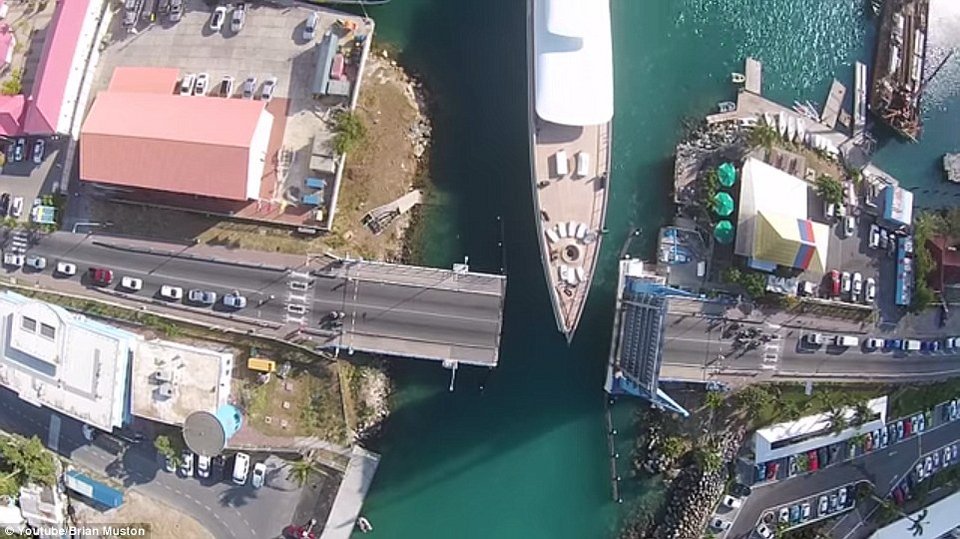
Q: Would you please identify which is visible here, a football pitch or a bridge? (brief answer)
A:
bridge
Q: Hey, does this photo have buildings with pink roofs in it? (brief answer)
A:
Yes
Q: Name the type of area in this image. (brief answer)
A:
port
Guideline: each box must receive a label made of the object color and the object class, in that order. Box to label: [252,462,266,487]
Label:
white car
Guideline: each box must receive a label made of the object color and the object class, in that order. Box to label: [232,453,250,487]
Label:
white vehicle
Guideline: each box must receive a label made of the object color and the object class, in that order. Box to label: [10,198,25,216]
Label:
white car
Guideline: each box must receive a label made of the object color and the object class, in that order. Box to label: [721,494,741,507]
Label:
white vehicle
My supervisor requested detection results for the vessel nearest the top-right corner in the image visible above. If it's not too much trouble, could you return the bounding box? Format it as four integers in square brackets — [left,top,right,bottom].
[865,0,952,143]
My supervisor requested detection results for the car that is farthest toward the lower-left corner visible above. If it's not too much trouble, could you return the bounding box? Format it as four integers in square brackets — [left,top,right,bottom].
[81,424,98,442]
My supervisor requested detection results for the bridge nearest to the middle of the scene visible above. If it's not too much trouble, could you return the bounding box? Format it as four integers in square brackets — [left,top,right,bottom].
[338,259,507,367]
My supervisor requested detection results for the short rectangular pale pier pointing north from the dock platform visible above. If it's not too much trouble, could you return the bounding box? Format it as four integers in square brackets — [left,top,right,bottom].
[742,57,762,95]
